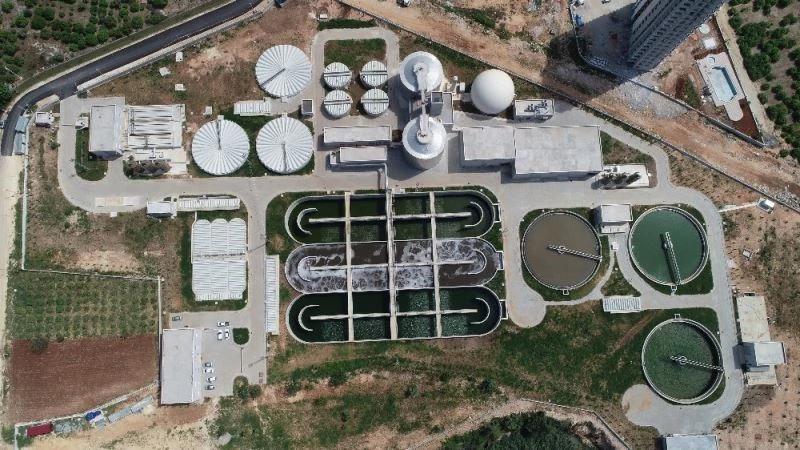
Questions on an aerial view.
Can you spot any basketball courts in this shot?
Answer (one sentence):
No, the picture doesn't show any basketball court.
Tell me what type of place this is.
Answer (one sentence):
This looks like an industrial area.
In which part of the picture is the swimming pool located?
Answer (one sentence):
Look in the top right portion of the view to spot the swimming pool.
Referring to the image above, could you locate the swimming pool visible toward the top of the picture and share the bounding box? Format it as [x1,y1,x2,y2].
[697,52,744,121]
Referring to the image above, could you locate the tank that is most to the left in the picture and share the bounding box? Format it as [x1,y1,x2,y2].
[192,116,252,177]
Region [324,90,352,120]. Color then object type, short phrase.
white storage tank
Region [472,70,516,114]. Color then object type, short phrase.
white storage tank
